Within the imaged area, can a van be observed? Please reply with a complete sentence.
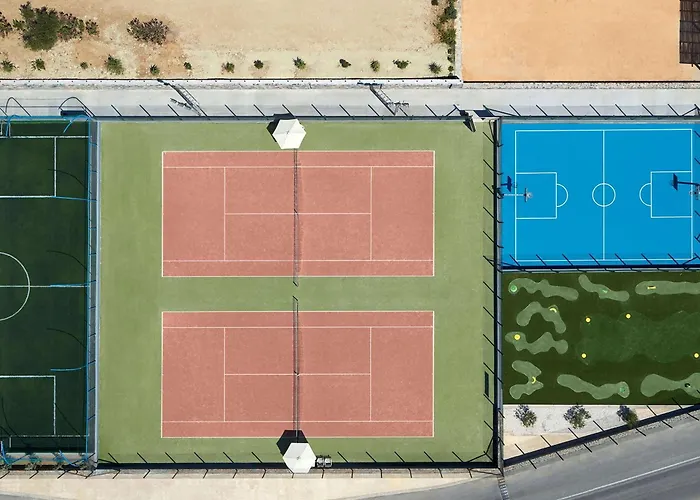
No, I can see no van in this picture.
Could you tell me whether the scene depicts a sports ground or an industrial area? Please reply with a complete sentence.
The area seen from above is a sports ground.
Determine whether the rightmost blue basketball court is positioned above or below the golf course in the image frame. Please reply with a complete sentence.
In the image, the rightmost blue basketball court sits above the golf course.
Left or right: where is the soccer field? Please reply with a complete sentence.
The soccer field appears in the left half of the scene.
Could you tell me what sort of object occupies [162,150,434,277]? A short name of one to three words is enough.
tennis court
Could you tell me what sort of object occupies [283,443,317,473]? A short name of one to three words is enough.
umbrella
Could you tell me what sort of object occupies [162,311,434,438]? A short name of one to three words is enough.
tennis court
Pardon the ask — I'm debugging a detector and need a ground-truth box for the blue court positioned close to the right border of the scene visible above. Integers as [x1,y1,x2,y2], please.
[502,122,700,268]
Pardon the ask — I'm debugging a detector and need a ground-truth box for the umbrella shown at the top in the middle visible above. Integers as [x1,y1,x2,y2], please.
[272,119,306,149]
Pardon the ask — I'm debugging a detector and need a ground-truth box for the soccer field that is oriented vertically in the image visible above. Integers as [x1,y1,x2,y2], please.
[0,122,90,451]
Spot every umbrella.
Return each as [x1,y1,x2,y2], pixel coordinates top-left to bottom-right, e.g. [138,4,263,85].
[283,443,317,473]
[272,119,306,149]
